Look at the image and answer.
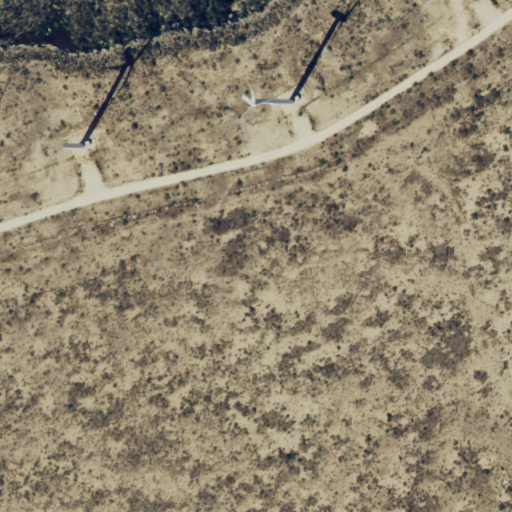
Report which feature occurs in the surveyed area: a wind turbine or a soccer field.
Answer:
wind turbine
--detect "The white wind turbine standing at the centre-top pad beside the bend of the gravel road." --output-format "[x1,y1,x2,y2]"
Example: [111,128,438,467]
[222,76,296,130]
